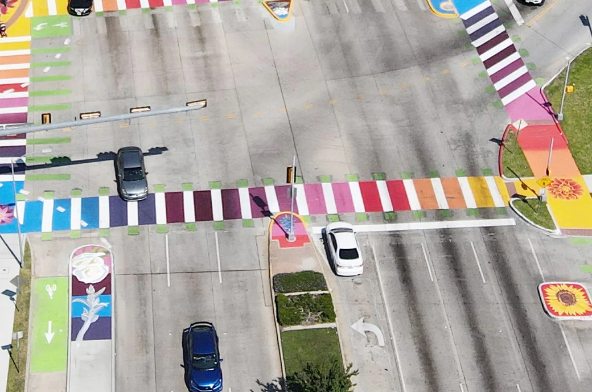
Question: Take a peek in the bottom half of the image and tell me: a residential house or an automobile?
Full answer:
The feature located in the bottom half of the image is an automobile.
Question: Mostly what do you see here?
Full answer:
The largest share of the image is taken up by paved ground.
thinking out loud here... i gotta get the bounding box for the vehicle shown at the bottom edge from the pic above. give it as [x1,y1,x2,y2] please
[183,318,225,390]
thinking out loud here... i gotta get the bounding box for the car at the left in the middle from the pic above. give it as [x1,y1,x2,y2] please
[116,142,153,196]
